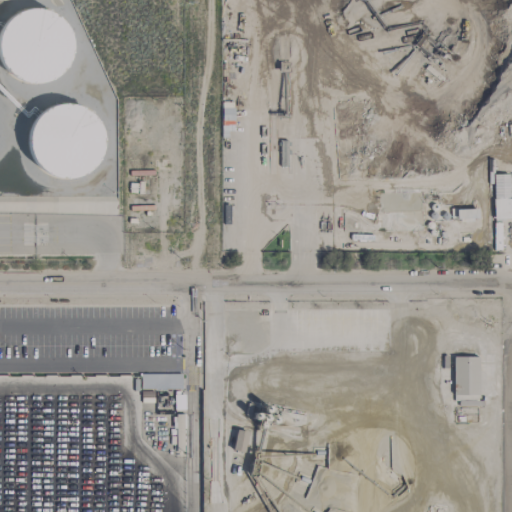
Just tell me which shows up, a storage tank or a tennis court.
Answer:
storage tank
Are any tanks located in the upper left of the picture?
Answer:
Yes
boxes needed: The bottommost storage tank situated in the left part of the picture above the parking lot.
[28,104,107,182]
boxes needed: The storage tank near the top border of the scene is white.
[0,8,76,86]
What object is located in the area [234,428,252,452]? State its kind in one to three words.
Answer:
shed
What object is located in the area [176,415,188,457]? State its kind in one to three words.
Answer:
shed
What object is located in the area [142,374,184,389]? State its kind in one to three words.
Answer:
building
